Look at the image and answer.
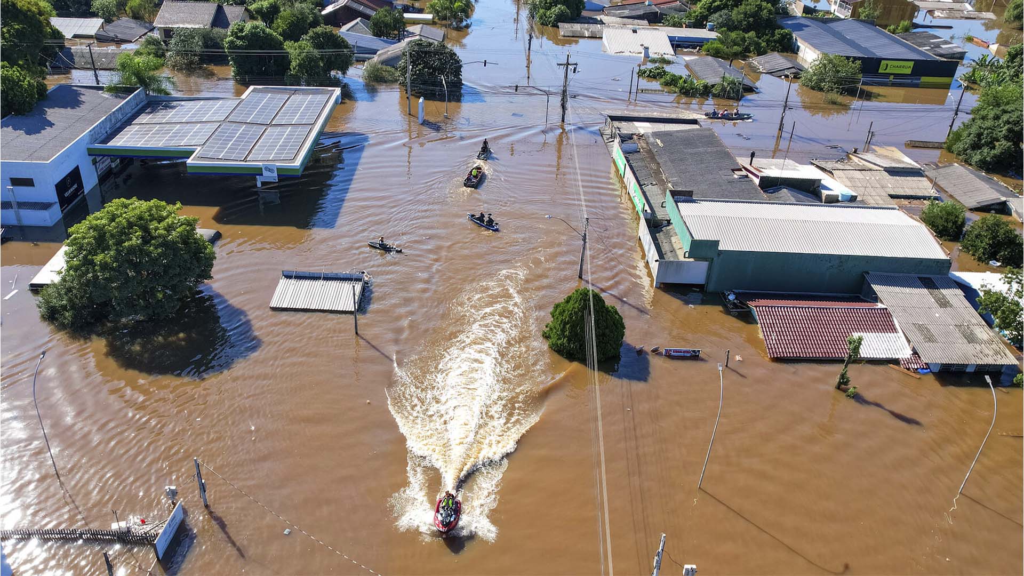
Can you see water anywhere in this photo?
Yes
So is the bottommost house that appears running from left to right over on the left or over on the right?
right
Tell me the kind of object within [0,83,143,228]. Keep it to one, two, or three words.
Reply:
building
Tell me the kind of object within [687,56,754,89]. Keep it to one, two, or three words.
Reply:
house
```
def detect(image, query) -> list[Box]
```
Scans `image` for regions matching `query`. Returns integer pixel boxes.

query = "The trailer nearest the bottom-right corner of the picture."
[717,290,754,318]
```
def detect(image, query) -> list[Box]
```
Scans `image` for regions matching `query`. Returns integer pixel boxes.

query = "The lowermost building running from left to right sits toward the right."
[740,301,921,363]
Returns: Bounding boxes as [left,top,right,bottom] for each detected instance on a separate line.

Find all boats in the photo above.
[705,108,755,120]
[468,213,500,231]
[431,491,462,531]
[472,141,492,160]
[368,241,402,252]
[462,160,487,189]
